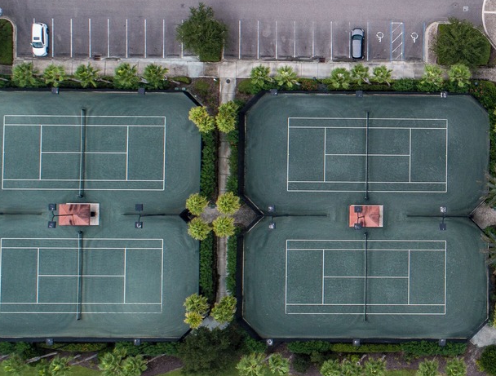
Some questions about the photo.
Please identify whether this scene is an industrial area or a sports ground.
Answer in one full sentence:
This image shows a sports ground.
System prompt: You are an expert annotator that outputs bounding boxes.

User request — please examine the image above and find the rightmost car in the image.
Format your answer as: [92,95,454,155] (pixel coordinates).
[350,29,365,59]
